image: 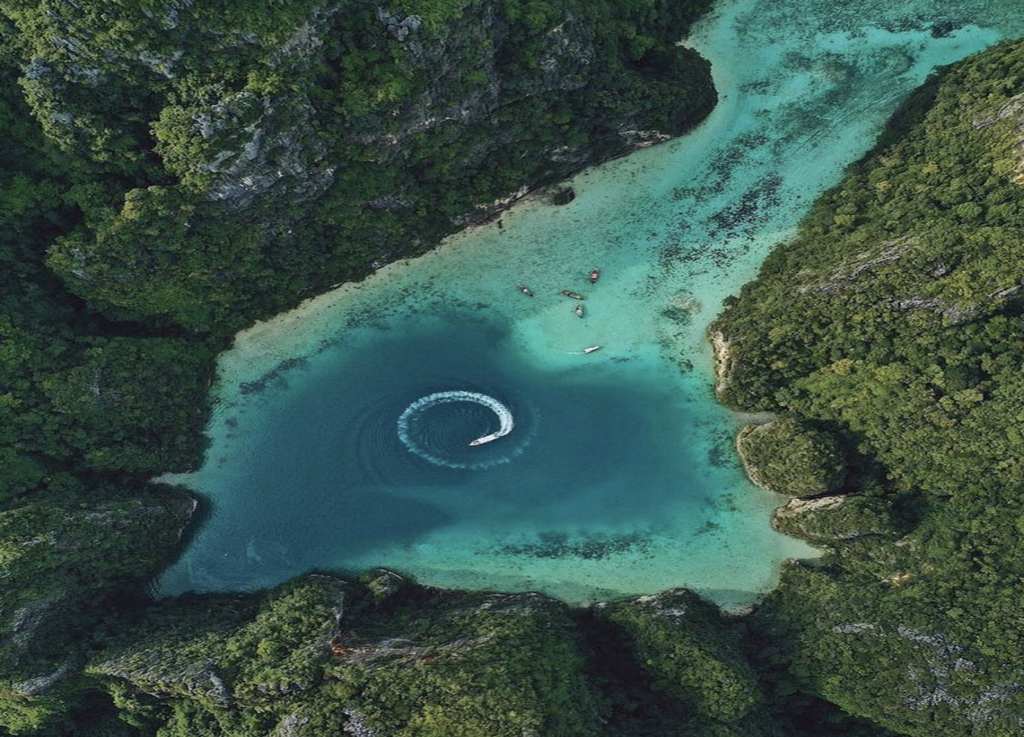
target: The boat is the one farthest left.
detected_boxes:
[469,432,500,445]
